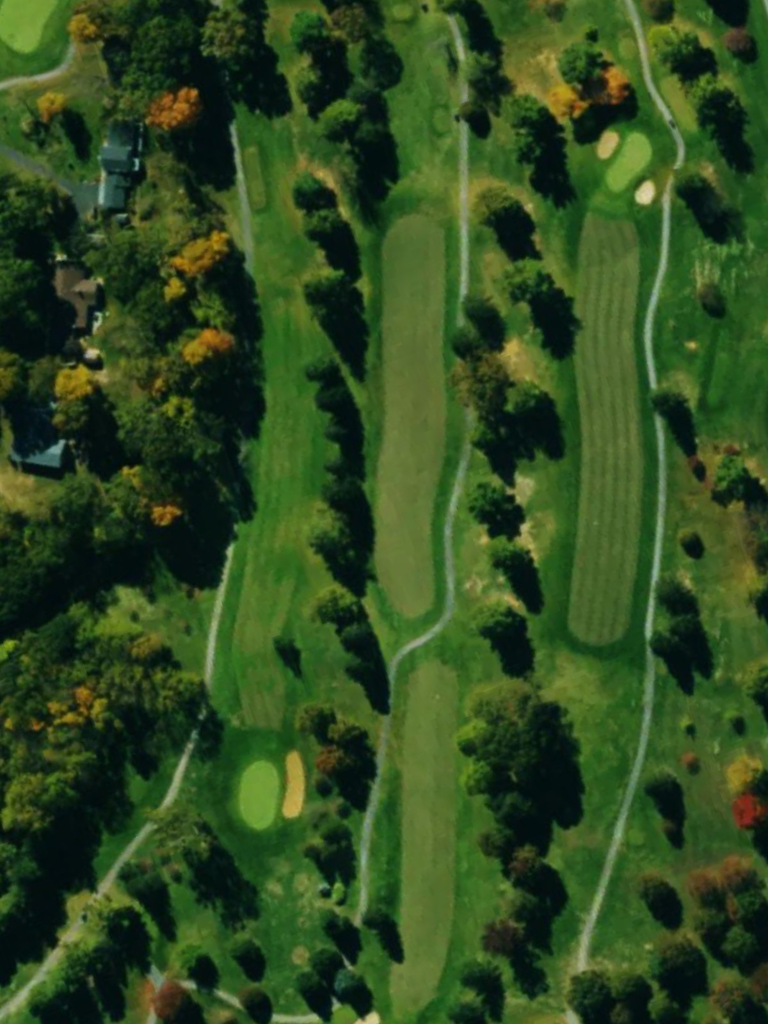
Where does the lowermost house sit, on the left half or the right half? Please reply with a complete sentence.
The lowermost house is on the left side of the image.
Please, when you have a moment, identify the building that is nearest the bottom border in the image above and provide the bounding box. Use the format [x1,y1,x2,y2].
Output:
[11,406,69,471]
